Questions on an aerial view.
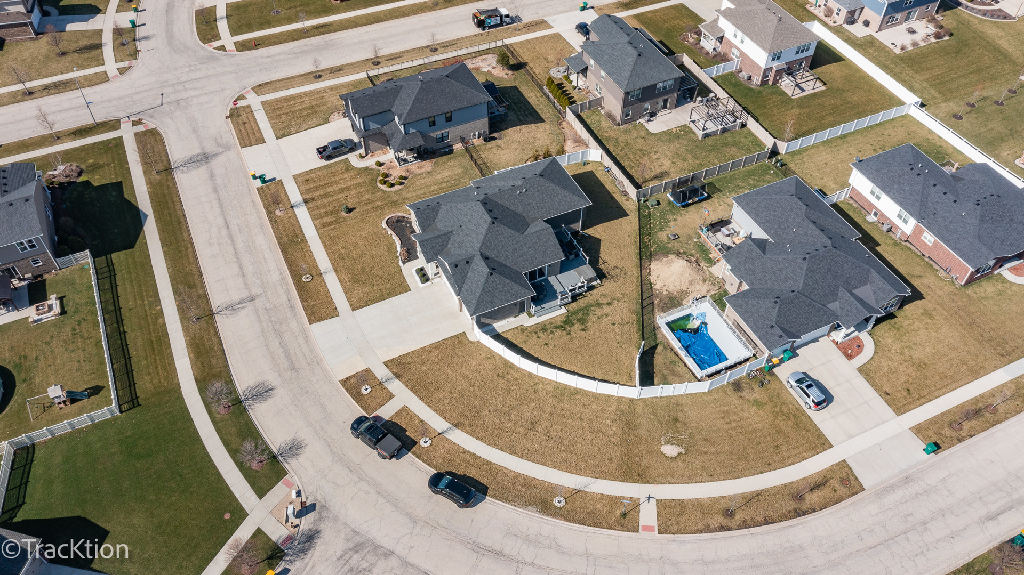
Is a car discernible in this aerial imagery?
Yes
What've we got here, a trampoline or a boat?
trampoline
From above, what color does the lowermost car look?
black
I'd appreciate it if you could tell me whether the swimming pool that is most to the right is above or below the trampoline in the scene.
below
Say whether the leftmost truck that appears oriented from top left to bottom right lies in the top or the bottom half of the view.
bottom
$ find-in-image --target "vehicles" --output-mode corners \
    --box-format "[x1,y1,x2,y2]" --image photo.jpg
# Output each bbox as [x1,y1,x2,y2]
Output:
[345,412,404,462]
[315,137,358,161]
[474,3,513,30]
[425,471,481,511]
[784,370,830,412]
[574,23,589,41]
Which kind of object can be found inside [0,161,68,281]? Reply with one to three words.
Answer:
house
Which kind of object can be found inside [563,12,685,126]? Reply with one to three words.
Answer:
house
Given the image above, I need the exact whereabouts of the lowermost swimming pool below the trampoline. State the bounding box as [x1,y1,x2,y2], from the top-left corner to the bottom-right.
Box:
[656,301,746,378]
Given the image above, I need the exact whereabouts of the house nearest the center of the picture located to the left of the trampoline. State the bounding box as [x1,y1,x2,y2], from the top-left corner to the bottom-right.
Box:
[405,156,592,335]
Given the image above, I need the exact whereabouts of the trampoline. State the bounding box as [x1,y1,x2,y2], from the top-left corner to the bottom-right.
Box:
[667,177,708,209]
